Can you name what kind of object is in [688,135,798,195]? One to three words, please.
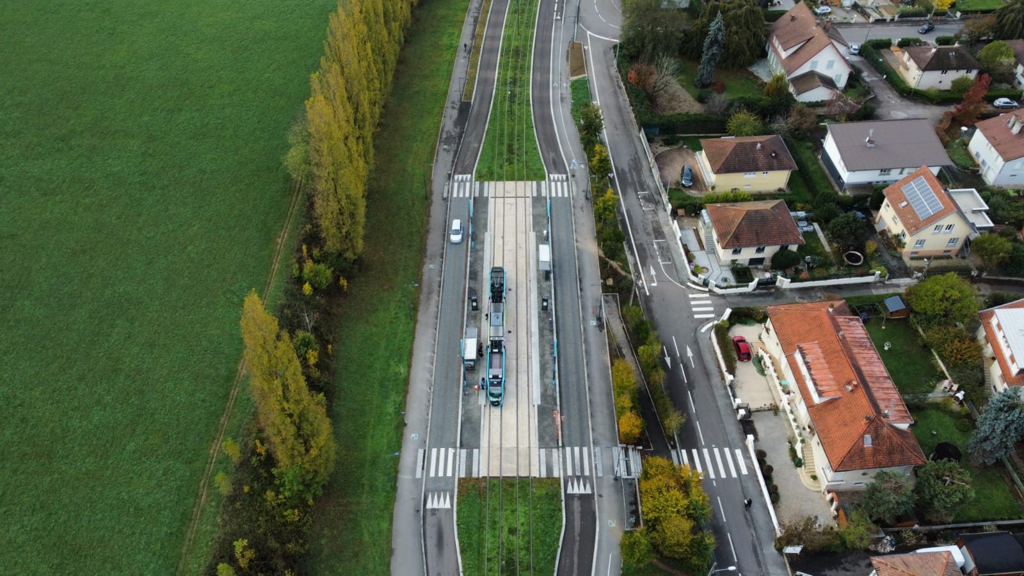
house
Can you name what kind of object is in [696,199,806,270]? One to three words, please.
house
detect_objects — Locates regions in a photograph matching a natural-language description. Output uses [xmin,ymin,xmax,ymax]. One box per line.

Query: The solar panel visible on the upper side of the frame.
[901,176,944,220]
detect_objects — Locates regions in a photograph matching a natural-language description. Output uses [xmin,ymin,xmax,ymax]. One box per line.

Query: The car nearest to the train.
[449,220,463,243]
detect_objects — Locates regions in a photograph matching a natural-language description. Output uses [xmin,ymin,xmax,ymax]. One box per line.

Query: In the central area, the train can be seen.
[485,269,507,408]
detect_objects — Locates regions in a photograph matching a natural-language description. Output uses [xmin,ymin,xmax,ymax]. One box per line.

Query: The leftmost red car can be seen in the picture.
[732,337,753,361]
